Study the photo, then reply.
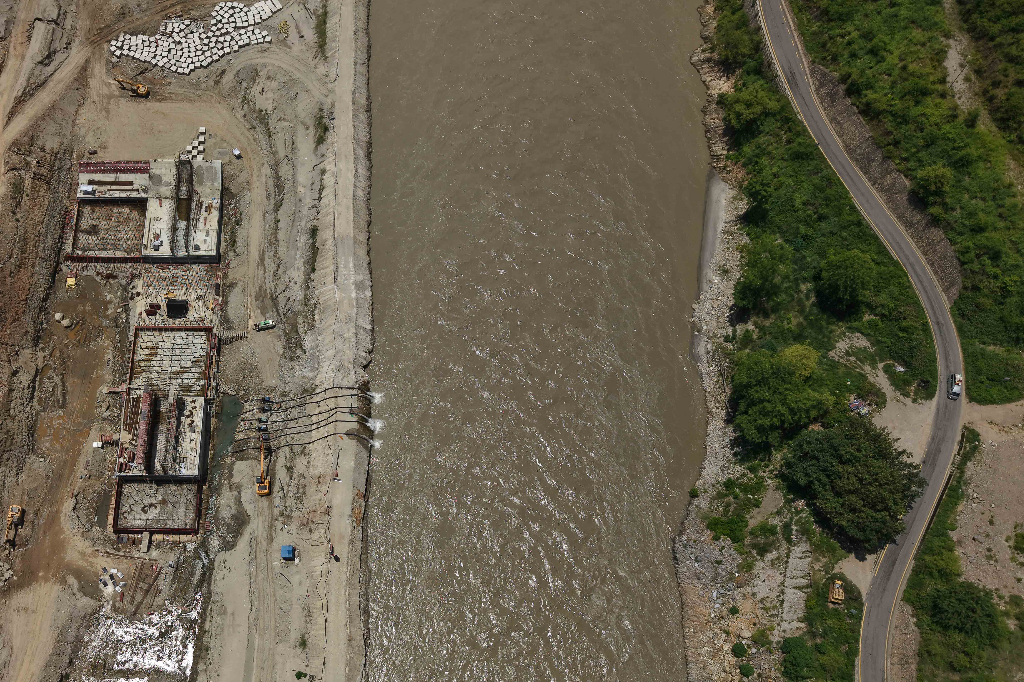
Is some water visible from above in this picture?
Yes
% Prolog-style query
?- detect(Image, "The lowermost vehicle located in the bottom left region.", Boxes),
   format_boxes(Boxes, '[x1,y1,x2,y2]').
[0,501,26,546]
